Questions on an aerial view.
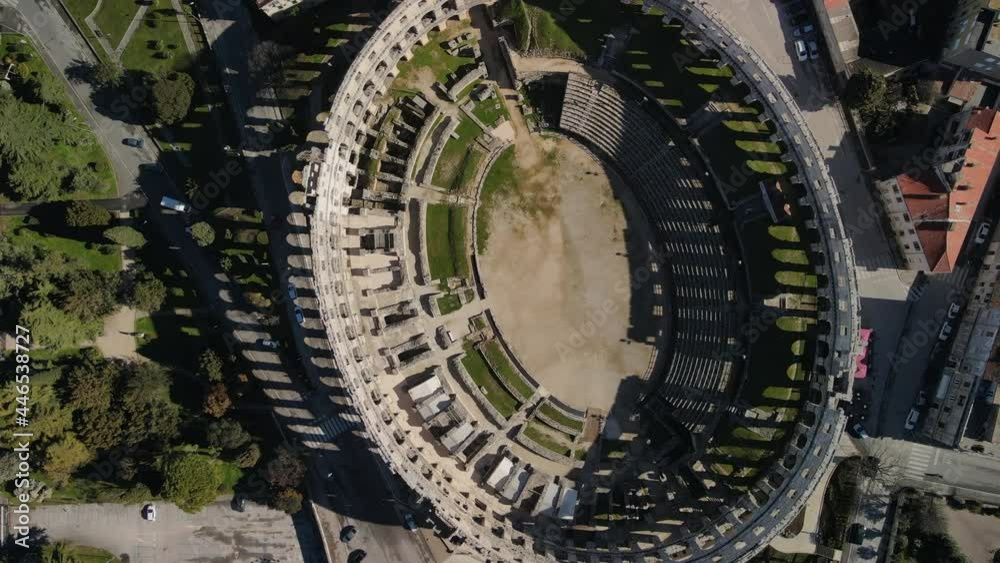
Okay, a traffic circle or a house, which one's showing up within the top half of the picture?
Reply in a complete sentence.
You can see a house within the top half of the picture.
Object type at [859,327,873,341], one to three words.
umbrella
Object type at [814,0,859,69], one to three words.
house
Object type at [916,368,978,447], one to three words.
house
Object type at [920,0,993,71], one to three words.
building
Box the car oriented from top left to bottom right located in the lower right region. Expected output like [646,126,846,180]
[851,422,869,439]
